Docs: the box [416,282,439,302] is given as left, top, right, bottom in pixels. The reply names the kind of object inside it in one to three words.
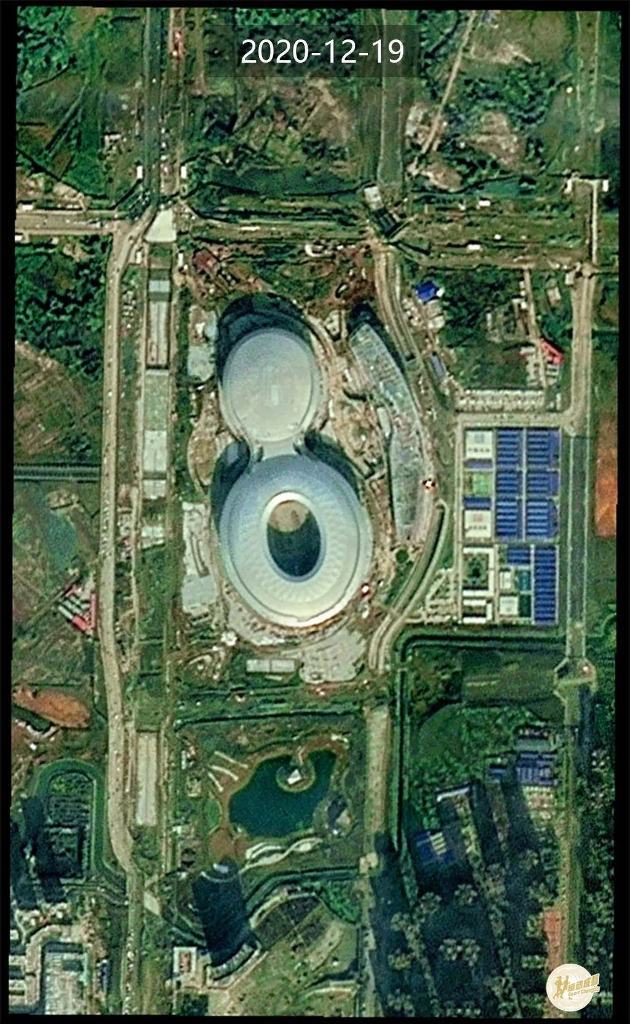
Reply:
house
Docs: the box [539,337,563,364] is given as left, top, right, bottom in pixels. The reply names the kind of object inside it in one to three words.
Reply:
building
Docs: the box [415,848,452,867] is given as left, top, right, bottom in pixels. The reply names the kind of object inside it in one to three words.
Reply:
shed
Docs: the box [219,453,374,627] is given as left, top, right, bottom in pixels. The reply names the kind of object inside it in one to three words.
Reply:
stadium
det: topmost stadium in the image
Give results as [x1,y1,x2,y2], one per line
[220,307,324,442]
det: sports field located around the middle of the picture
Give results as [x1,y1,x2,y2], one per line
[266,498,322,577]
